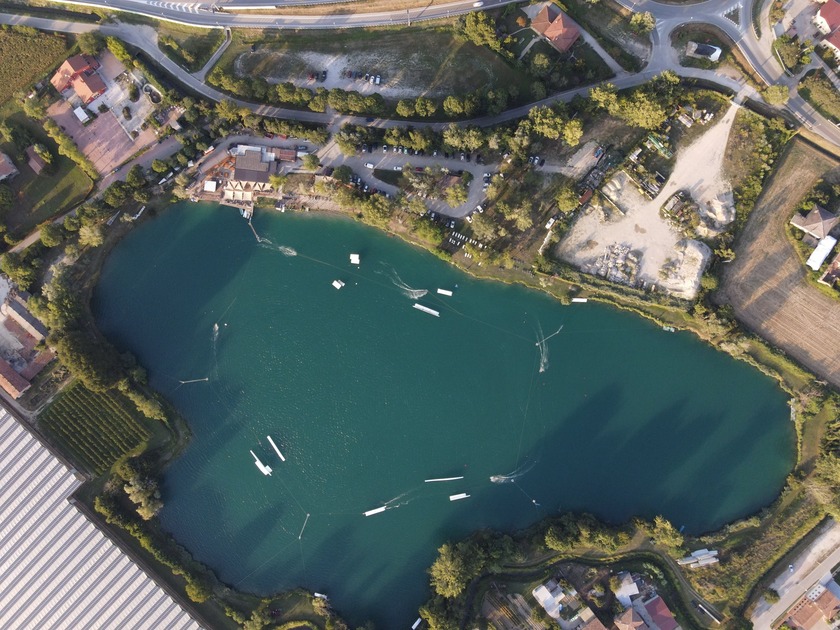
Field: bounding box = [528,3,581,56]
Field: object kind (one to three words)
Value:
house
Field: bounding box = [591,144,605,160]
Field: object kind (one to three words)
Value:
vehicle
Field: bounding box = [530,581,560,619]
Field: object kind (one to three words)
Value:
house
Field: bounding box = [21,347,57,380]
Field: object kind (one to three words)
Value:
building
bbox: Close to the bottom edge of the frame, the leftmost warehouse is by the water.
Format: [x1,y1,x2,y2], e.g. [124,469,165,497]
[0,386,220,630]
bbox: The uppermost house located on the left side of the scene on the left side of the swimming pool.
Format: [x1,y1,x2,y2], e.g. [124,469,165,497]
[48,48,107,103]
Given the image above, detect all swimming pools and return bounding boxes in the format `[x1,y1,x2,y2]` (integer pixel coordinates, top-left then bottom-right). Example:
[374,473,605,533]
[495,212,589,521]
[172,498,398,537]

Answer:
[143,84,162,103]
